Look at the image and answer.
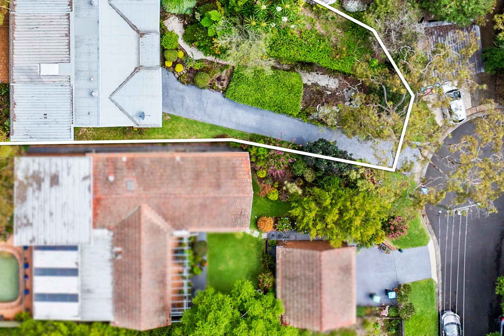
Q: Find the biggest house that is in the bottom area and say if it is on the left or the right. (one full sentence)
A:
It is on the left.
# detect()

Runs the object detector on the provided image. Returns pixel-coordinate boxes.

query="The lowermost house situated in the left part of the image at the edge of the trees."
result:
[14,151,254,332]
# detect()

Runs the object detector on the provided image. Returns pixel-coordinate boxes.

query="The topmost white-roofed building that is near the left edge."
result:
[10,0,162,140]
